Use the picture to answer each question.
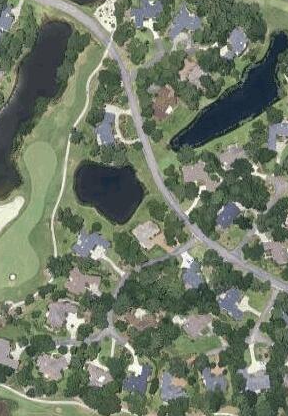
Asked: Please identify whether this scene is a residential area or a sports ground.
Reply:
residential area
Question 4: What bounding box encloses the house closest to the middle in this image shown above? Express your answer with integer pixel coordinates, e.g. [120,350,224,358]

[131,221,161,250]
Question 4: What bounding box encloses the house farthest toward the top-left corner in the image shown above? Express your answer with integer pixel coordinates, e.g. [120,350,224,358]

[0,8,20,43]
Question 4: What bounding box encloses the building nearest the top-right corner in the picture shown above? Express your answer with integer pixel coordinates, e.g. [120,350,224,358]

[222,21,253,62]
